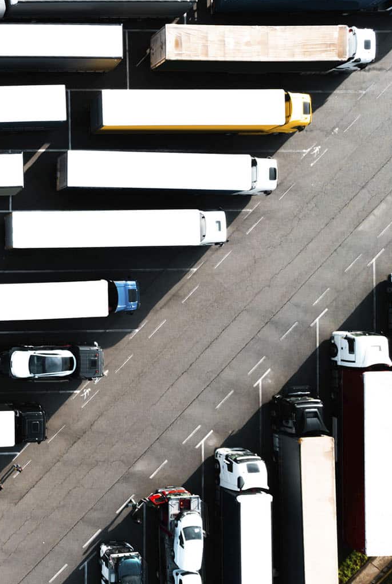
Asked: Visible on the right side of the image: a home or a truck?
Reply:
truck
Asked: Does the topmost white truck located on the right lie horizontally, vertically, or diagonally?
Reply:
horizontally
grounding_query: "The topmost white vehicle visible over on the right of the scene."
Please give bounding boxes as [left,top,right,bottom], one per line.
[149,25,376,78]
